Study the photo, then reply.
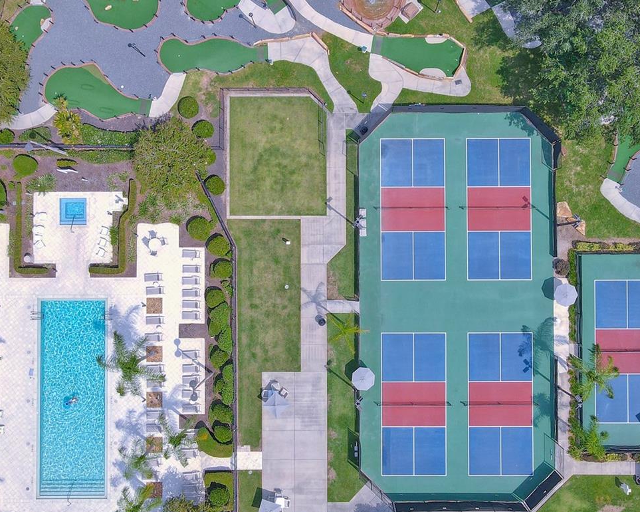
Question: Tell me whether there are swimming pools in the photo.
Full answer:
Yes, a swimming pool appears in the view.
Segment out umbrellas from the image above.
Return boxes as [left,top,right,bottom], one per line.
[352,367,375,389]
[257,496,284,512]
[553,282,577,306]
[262,390,290,419]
